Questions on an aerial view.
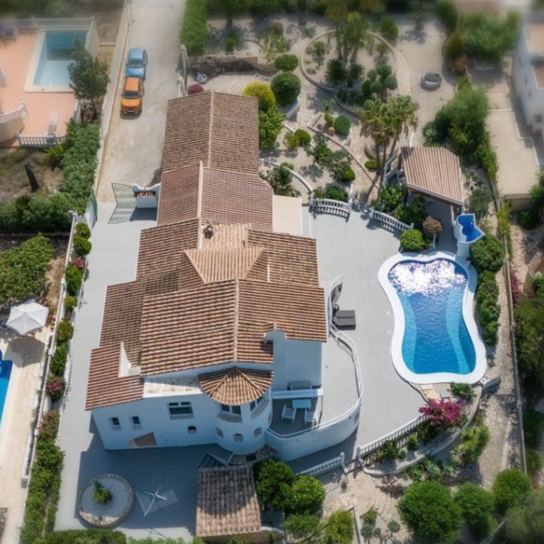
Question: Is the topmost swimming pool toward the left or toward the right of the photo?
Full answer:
The topmost swimming pool appears in the left half of the scene.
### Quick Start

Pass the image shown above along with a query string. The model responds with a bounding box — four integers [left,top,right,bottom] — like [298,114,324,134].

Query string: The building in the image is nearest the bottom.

[197,465,269,544]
